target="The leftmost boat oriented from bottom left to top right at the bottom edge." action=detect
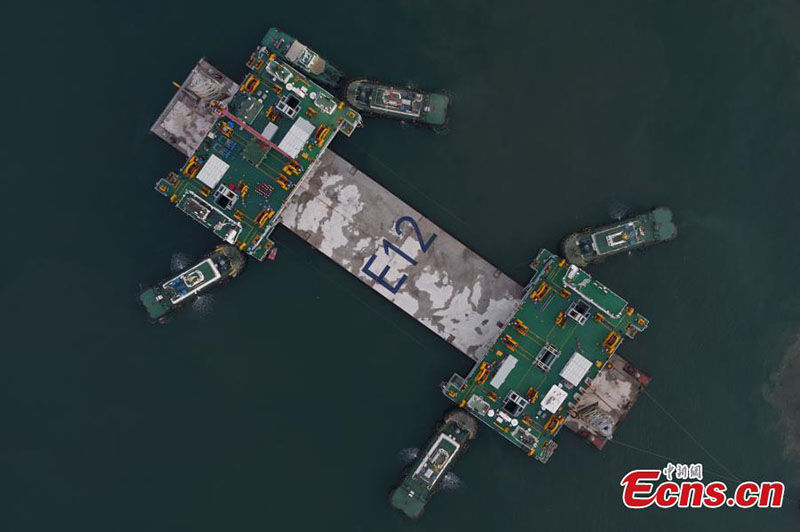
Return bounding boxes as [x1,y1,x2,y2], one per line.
[389,407,477,520]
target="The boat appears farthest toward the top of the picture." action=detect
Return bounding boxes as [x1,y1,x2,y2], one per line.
[261,26,342,89]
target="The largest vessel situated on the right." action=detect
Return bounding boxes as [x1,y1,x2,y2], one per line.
[443,246,652,466]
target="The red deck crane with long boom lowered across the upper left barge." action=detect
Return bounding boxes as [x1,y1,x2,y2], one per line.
[211,98,299,162]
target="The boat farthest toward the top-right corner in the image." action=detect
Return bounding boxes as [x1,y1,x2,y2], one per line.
[558,206,679,265]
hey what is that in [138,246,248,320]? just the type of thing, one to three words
boat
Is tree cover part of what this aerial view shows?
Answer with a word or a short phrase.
No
